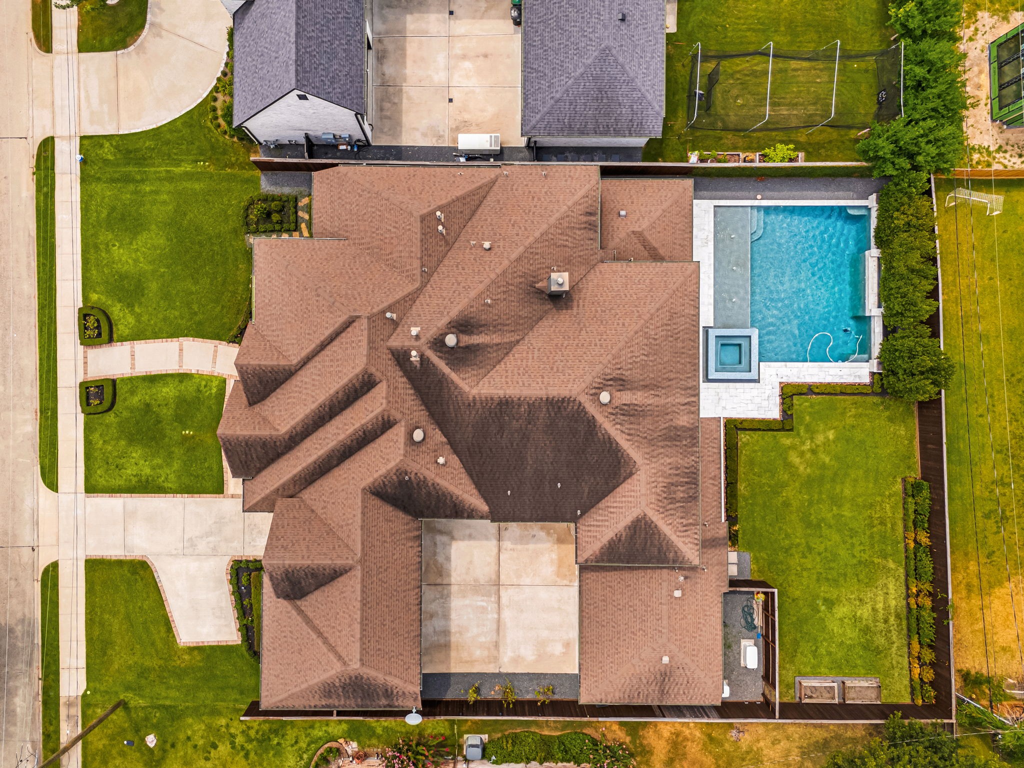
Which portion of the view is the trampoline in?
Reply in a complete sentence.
The trampoline appears toward the top right of the photo.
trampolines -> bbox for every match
[980,23,1024,126]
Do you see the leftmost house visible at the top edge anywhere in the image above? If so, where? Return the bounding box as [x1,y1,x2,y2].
[222,0,375,147]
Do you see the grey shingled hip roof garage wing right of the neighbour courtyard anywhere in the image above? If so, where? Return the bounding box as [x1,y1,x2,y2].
[520,0,667,149]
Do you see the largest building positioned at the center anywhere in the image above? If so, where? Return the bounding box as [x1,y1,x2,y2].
[217,163,730,711]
